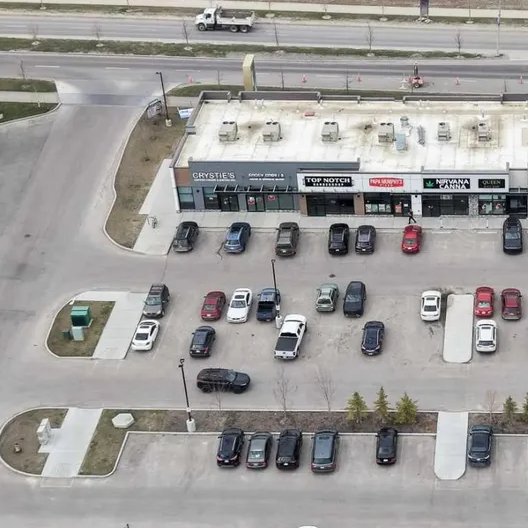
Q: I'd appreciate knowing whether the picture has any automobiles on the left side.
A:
Yes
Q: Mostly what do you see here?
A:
paved ground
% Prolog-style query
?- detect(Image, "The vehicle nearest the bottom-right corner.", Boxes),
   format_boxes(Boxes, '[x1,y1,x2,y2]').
[467,428,494,469]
